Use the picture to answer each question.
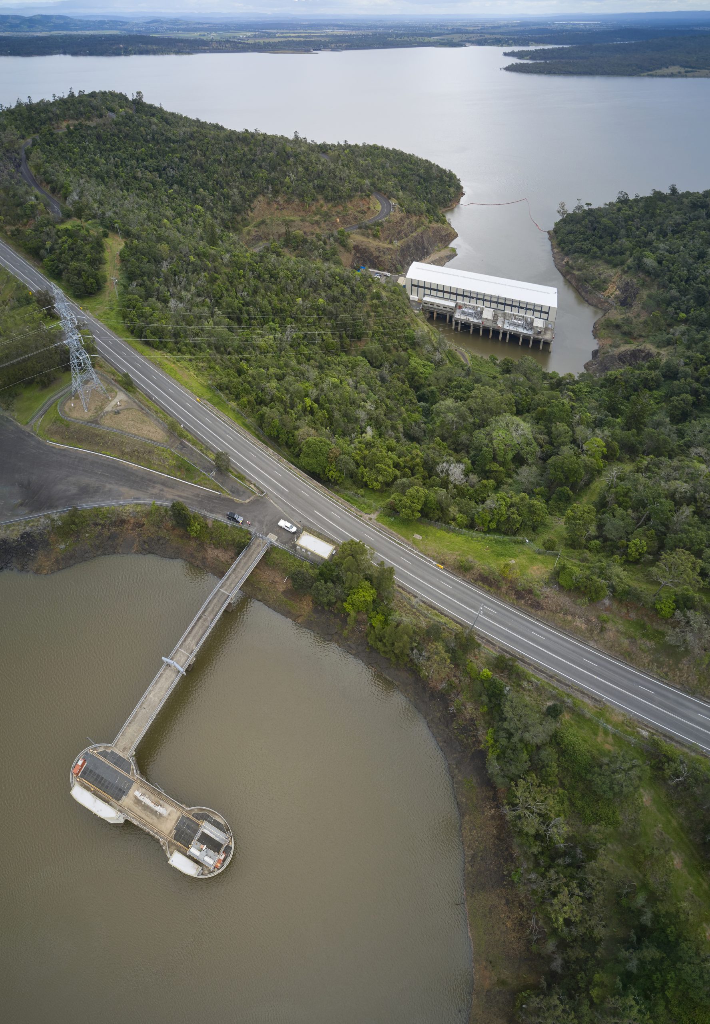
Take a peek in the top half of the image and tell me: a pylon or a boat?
pylon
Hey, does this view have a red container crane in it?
No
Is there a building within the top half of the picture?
Yes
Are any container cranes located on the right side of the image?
No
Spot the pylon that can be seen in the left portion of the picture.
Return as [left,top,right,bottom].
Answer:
[38,278,113,412]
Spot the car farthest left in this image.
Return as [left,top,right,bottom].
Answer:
[225,511,244,524]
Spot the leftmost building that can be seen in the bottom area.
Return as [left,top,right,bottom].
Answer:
[70,784,129,830]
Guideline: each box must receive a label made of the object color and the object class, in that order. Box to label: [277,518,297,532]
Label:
white vehicle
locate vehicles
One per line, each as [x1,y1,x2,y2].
[277,518,297,532]
[225,511,244,524]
